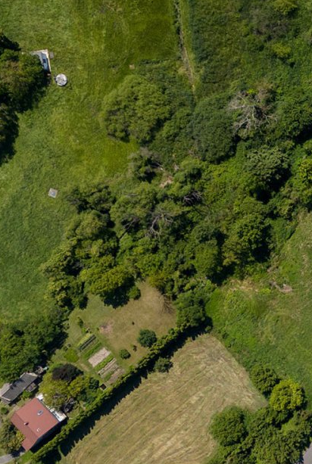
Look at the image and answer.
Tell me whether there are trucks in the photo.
No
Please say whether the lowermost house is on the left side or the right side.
left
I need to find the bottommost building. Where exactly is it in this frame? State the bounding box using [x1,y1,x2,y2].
[8,393,72,447]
